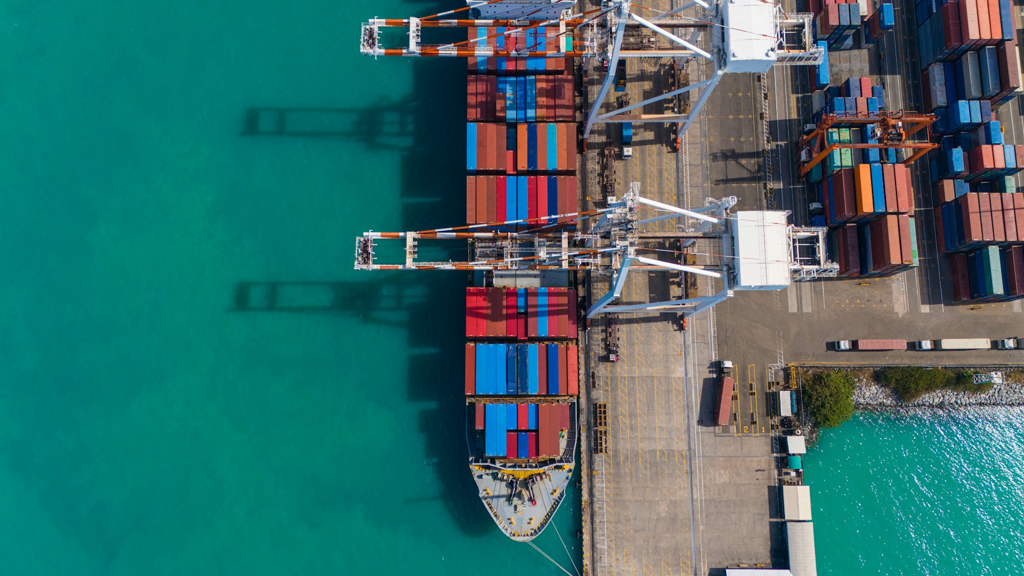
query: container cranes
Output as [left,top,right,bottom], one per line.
[798,108,943,180]
[356,180,843,330]
[360,0,828,148]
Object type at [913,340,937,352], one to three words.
vehicle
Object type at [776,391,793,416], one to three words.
shed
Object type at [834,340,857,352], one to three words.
vehicle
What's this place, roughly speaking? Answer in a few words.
port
